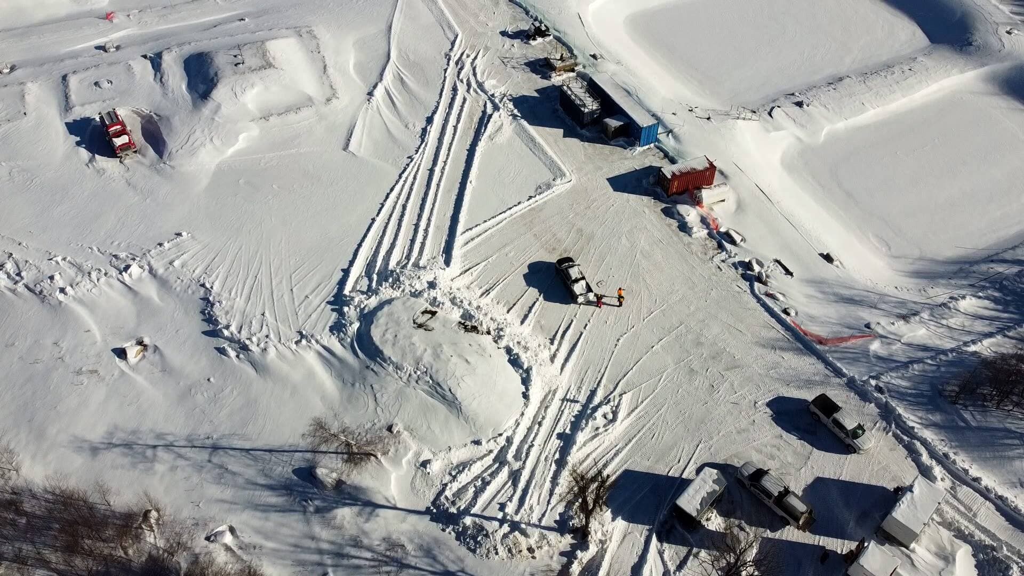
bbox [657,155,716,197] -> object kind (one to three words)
shipping container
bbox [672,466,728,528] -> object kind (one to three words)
trailer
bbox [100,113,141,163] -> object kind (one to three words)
truck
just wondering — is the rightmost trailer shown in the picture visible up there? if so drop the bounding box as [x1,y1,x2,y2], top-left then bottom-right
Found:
[886,472,949,539]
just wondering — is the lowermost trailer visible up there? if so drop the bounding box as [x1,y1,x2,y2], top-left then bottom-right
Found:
[837,536,902,576]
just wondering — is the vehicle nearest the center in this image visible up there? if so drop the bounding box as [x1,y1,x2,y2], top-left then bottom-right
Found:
[556,257,595,307]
